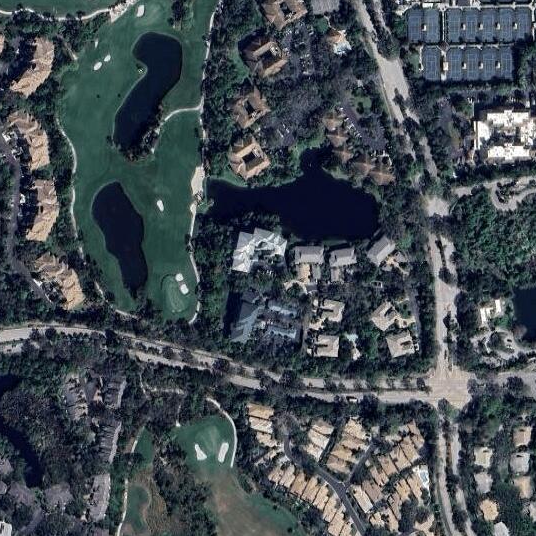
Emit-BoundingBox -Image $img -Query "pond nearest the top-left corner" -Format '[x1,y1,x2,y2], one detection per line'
[113,32,182,148]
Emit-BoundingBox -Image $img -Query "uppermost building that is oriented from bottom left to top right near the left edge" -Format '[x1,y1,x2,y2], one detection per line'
[11,37,58,98]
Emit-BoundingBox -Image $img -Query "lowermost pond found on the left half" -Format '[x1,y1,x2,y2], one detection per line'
[92,183,148,299]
